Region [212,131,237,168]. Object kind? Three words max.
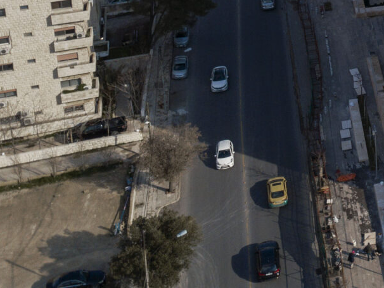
car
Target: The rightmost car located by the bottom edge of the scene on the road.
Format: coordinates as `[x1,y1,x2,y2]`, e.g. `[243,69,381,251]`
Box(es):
[252,236,281,281]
